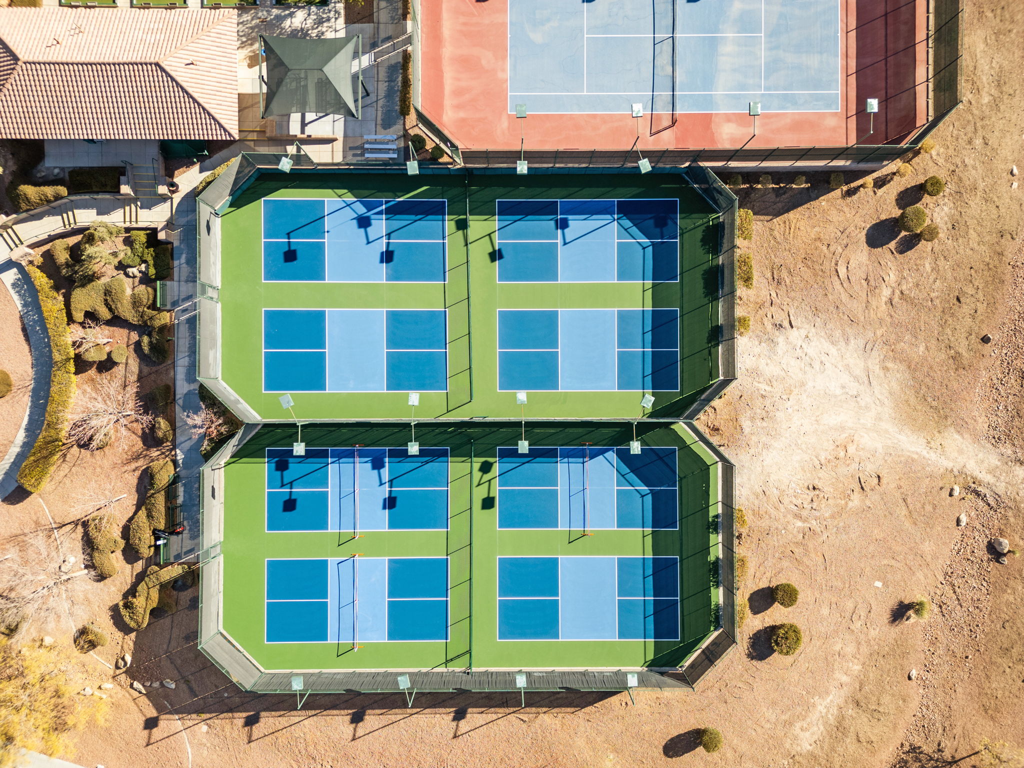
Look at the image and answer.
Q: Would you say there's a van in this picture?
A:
No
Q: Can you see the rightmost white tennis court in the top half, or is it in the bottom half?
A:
top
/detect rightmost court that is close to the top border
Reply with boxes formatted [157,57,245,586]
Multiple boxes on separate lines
[508,0,840,112]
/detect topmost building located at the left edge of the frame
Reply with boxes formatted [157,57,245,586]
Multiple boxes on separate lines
[0,4,239,140]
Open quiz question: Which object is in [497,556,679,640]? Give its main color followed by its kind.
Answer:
blue sports court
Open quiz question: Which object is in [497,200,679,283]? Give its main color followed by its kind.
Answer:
blue sports court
